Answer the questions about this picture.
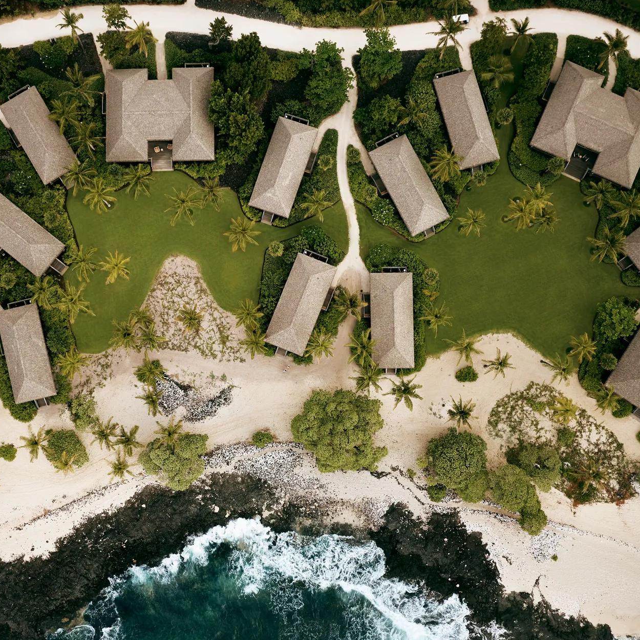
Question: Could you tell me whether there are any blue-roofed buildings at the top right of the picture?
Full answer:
No, no blue-roofed building is visible at the top right of the picture.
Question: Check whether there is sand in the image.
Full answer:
Yes, there is sand in the image.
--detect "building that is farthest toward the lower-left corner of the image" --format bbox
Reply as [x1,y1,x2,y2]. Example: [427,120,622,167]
[0,298,57,413]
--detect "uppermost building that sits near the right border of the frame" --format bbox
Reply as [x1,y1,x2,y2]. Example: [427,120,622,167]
[529,60,640,188]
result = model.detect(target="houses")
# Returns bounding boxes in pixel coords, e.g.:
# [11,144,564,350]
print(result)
[0,298,57,413]
[602,324,640,425]
[263,249,337,363]
[367,132,449,245]
[0,84,79,195]
[103,65,214,178]
[249,113,318,231]
[607,228,640,277]
[529,60,640,188]
[431,68,500,185]
[0,193,72,278]
[361,266,414,382]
